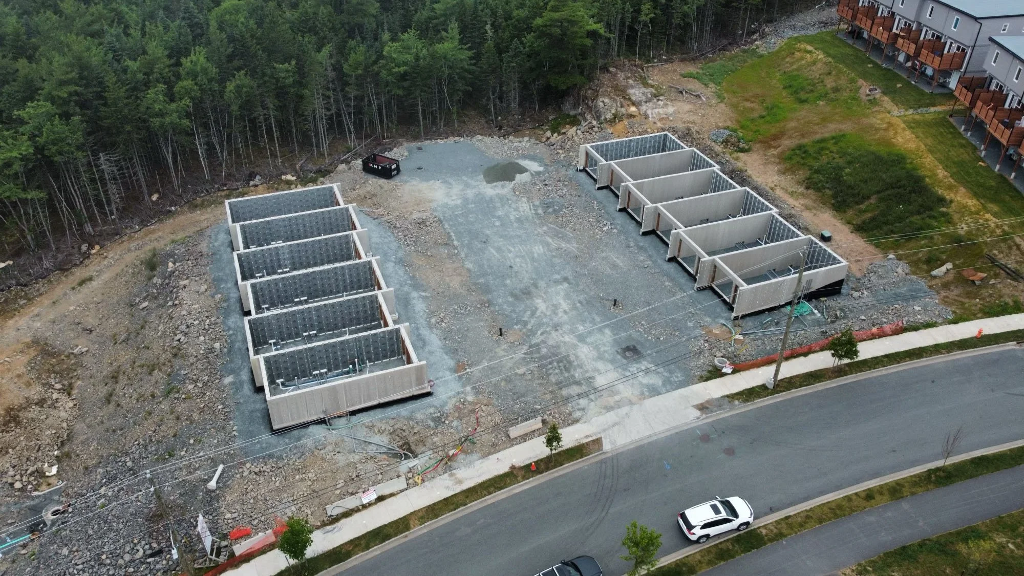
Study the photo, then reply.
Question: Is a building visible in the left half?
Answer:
No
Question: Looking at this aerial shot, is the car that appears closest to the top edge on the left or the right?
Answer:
right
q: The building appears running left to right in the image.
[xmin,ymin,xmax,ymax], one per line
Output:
[834,0,1024,90]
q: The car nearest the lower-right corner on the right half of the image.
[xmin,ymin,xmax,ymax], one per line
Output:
[681,499,755,544]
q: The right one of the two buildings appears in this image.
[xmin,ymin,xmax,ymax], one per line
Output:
[937,38,1024,200]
